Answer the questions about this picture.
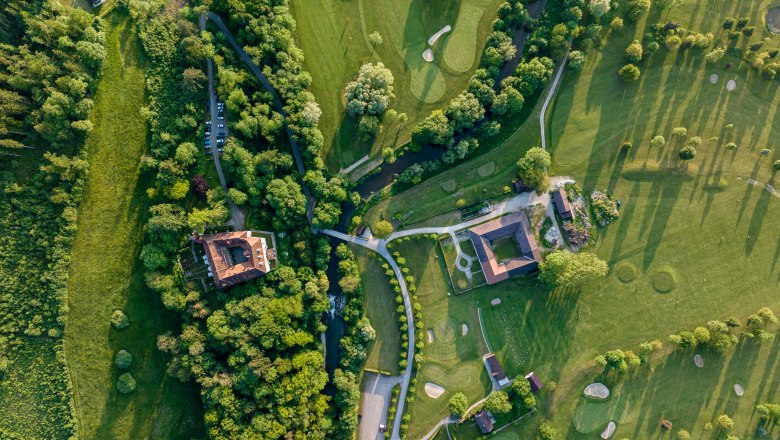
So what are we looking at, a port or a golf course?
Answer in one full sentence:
The picture captures a golf course.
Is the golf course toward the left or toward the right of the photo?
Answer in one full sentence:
The golf course sits on the right side.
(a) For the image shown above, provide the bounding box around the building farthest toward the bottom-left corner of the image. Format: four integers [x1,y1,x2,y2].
[190,231,277,288]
